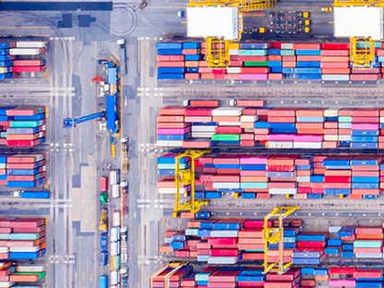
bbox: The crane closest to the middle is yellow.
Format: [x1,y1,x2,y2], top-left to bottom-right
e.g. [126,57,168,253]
[174,150,212,214]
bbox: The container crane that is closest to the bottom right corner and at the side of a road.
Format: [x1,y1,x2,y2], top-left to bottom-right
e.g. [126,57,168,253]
[262,207,298,275]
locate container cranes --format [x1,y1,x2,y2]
[188,0,289,69]
[174,150,212,214]
[333,0,384,69]
[146,262,188,288]
[262,207,298,275]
